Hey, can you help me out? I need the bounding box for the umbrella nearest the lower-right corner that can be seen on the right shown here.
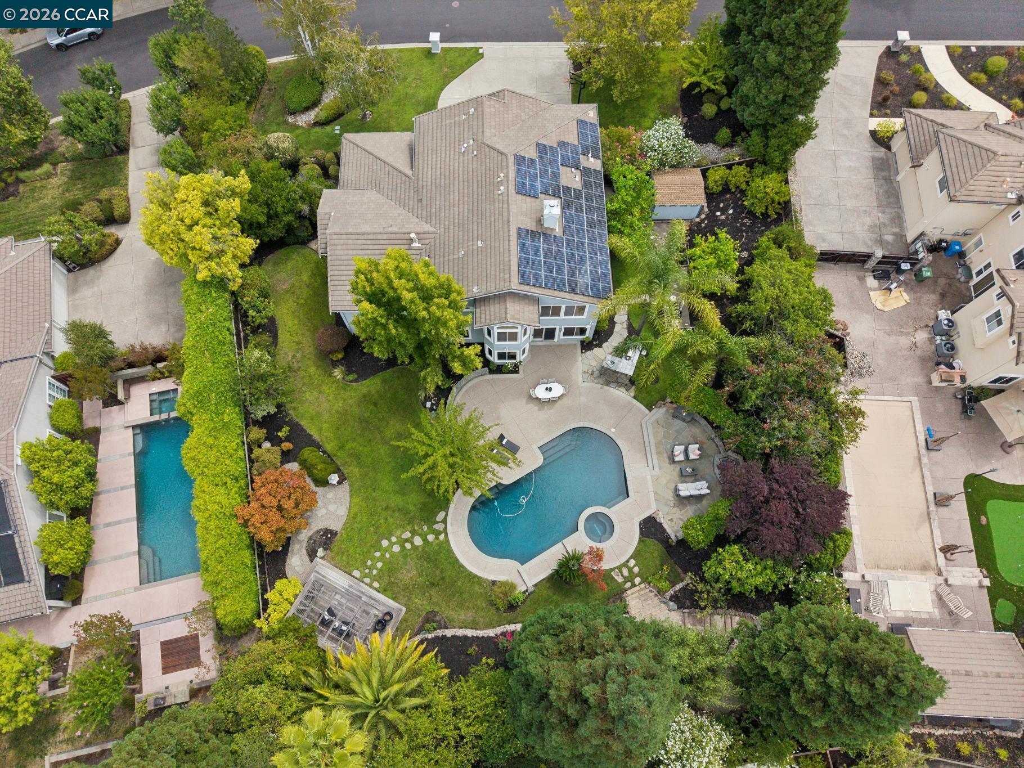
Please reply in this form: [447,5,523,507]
[938,542,970,562]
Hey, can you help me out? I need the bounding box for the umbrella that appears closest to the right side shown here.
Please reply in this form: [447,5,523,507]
[980,372,1024,454]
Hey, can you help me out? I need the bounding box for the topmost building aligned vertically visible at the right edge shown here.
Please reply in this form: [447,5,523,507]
[889,108,1024,388]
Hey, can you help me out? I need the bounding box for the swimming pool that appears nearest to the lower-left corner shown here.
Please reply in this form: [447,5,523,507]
[133,415,203,584]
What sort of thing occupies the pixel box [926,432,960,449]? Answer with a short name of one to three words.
umbrella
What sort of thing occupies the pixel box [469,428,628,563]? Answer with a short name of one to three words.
swimming pool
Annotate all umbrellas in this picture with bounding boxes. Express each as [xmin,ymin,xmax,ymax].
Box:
[980,372,1024,454]
[932,491,967,505]
[938,542,970,562]
[926,432,960,449]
